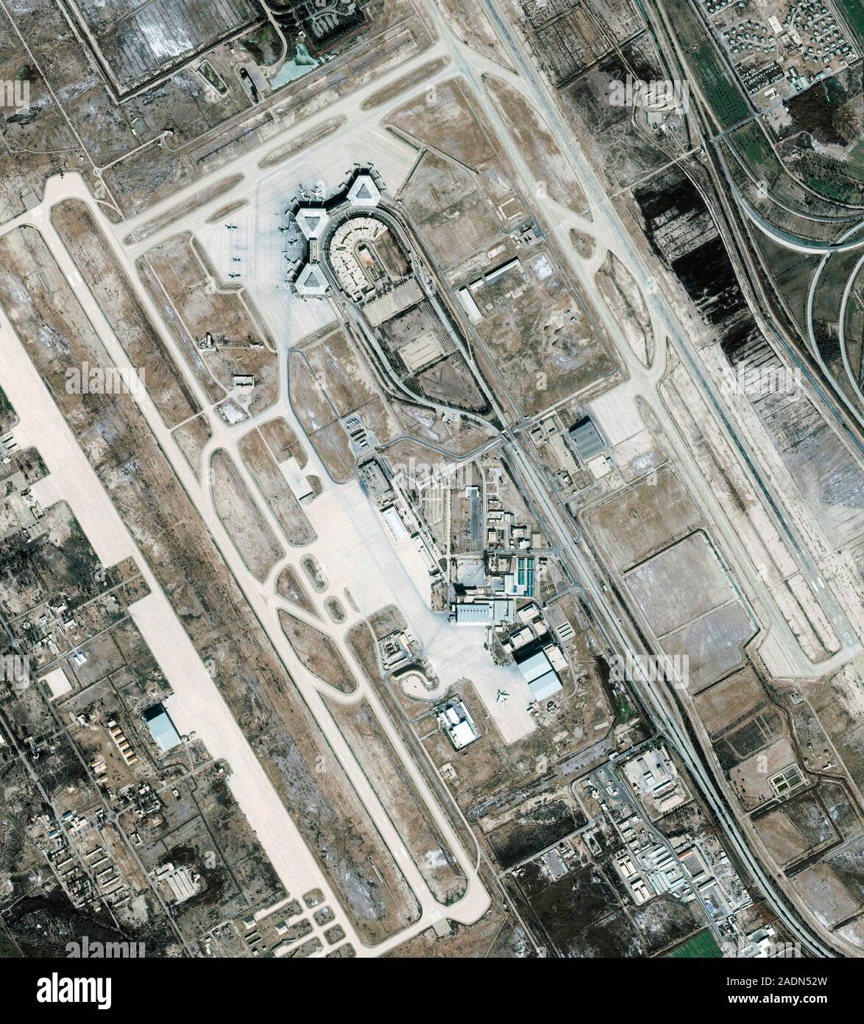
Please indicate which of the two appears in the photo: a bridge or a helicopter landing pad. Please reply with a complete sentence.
The one in the frame is a bridge.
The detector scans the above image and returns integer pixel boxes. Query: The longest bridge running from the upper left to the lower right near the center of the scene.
[486,393,530,463]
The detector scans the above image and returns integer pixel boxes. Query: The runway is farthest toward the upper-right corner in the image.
[480,0,864,654]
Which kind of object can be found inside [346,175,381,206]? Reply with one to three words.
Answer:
building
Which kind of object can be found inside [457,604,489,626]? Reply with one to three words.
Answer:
hangar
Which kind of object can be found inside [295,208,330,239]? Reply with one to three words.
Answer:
building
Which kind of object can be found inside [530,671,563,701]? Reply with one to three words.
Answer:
hangar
